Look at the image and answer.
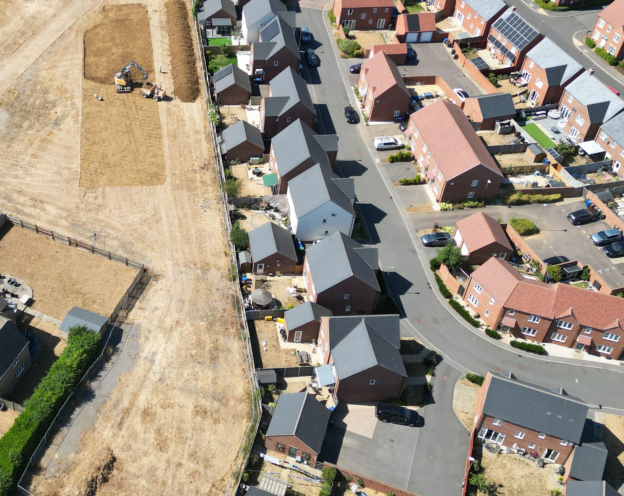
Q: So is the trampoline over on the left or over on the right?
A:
left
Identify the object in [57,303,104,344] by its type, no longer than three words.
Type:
shed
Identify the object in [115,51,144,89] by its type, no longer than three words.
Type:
work vehicle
